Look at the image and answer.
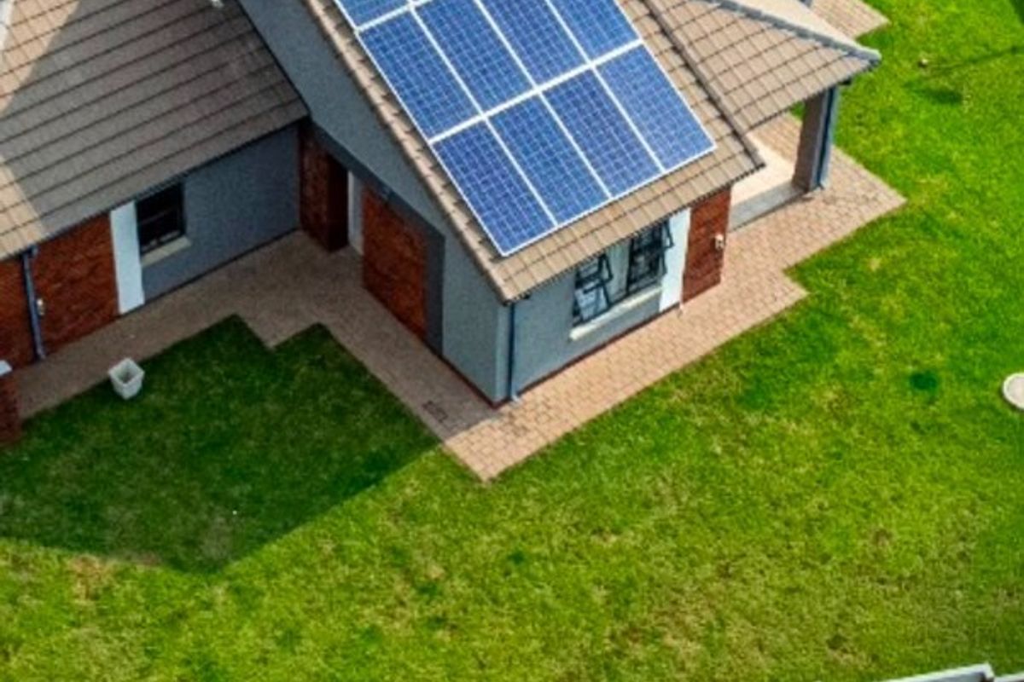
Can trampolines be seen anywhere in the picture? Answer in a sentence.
No, no trampoline is visible in the scene.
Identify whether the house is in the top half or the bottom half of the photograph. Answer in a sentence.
The top half of the photo is where the house is.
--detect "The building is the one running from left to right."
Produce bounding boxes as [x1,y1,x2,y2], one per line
[0,0,887,409]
